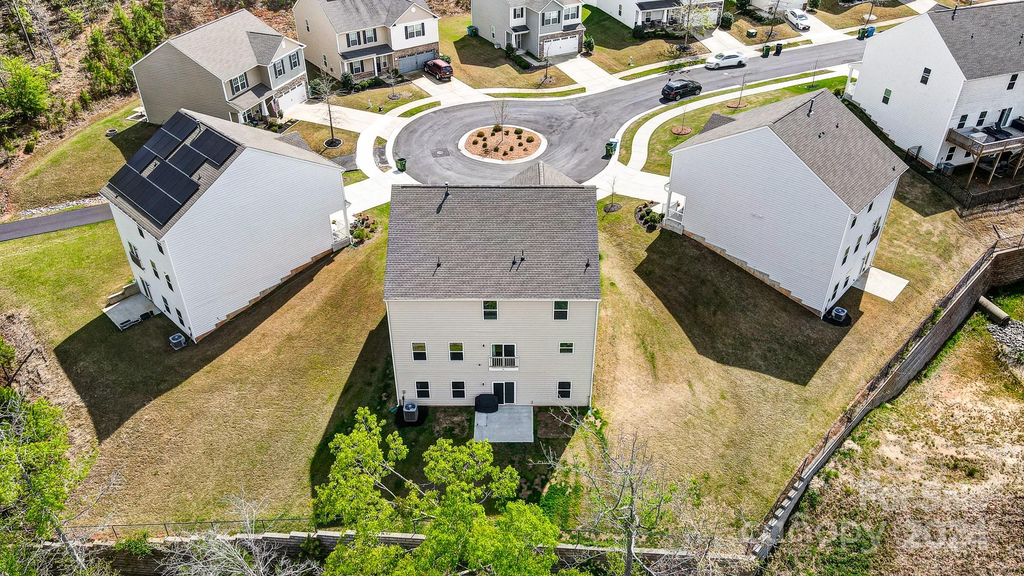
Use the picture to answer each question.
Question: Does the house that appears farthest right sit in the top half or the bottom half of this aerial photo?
top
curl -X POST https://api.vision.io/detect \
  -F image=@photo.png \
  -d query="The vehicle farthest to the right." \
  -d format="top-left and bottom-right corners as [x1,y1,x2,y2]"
[787,11,810,27]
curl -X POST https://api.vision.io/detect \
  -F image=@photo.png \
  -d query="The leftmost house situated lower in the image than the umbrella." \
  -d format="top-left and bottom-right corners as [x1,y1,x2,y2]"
[98,108,356,344]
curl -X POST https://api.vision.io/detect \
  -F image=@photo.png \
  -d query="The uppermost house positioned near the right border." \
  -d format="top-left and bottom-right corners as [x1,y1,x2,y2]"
[843,1,1024,187]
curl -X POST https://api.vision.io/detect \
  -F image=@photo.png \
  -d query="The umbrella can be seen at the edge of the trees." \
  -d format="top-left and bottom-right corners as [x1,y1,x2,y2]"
[122,95,144,118]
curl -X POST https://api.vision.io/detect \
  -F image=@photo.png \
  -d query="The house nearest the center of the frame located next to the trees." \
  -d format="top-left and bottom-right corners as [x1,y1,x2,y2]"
[383,159,602,410]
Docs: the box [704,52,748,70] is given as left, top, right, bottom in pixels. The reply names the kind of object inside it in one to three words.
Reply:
car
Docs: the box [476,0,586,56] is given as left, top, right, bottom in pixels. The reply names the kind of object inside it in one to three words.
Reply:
house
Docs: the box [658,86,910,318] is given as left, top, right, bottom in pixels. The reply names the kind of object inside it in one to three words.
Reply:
house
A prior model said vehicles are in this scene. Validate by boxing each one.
[424,57,454,77]
[660,78,704,101]
[787,11,810,27]
[704,52,748,70]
